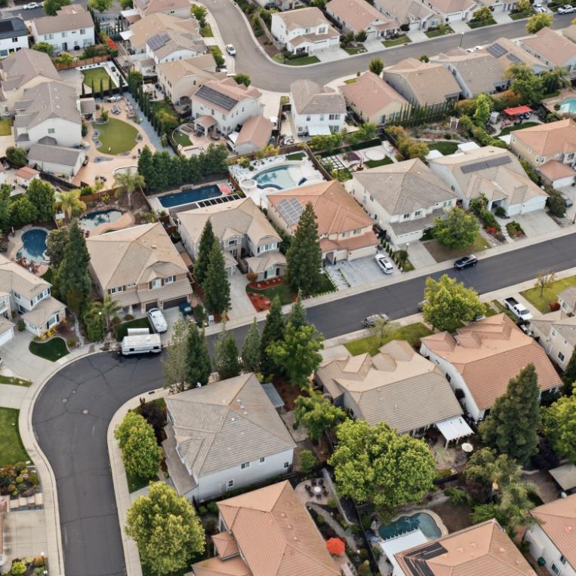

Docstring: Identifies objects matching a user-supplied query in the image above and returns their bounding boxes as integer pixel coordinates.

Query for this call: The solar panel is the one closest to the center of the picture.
[276,198,305,223]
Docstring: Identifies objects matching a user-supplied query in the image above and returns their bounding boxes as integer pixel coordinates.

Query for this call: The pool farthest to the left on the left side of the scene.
[18,228,50,263]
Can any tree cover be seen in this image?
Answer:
Yes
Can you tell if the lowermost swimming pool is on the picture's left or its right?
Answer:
right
